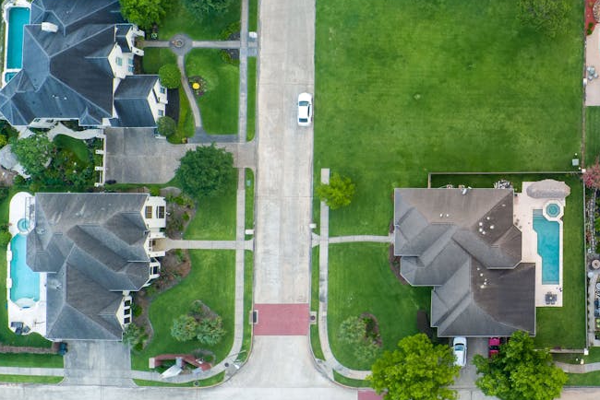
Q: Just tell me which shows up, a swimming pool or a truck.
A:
swimming pool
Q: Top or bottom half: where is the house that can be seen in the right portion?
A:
bottom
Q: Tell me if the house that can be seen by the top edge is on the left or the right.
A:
left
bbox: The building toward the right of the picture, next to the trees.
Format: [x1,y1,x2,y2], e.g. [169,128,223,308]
[393,188,537,338]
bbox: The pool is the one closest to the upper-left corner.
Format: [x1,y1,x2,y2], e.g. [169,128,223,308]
[5,7,32,69]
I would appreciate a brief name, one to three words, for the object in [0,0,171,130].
house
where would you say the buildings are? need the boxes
[0,0,171,130]
[27,193,174,341]
[393,188,537,338]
